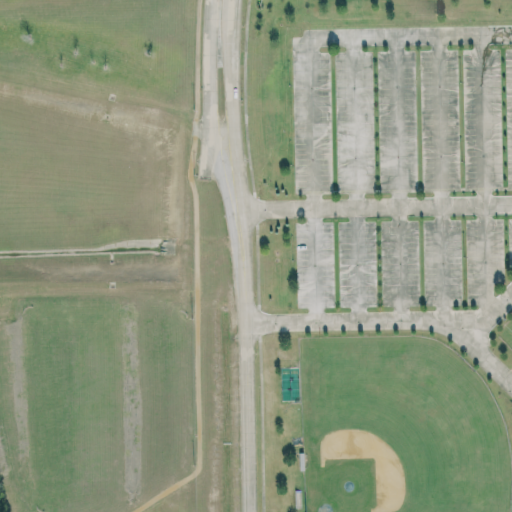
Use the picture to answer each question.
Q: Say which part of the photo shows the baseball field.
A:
bottom right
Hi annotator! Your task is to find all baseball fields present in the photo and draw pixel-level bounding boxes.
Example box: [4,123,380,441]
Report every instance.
[300,336,511,512]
